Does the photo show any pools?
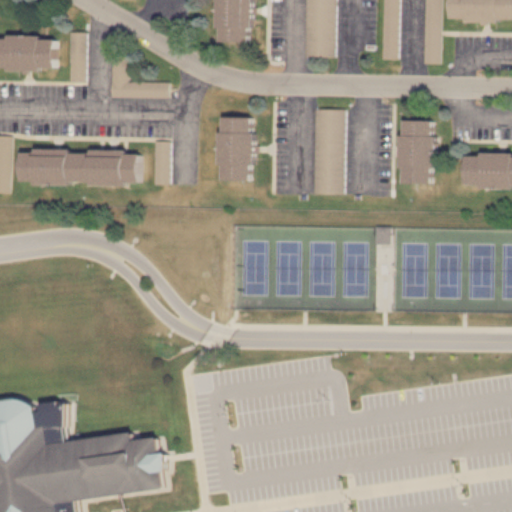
No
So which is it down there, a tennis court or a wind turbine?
tennis court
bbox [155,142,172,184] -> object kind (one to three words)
building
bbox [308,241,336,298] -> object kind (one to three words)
tennis court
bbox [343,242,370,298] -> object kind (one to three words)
tennis court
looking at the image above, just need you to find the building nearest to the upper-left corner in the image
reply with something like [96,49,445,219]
[0,36,62,72]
